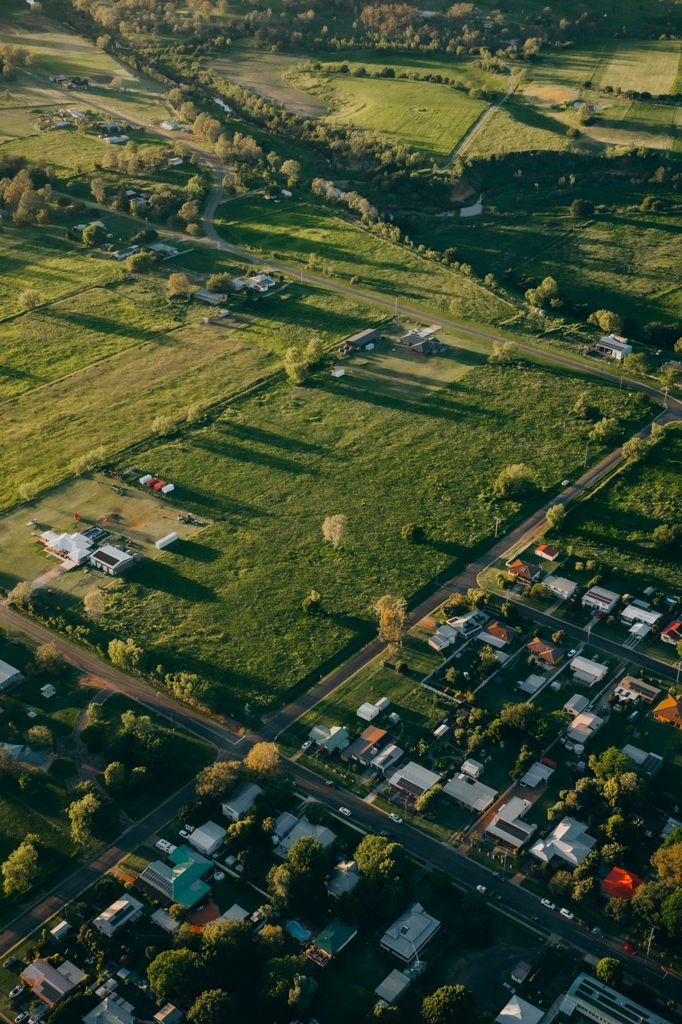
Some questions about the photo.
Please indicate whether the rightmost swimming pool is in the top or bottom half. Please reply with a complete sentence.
Seen from above, the rightmost swimming pool lies in the bottom half of the view.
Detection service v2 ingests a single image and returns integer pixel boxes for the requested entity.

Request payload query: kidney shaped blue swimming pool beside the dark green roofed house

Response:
[284,919,312,941]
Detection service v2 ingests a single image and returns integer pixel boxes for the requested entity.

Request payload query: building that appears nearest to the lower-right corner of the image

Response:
[565,972,673,1024]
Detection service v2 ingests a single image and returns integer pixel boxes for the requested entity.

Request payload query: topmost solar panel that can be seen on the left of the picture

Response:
[93,549,120,566]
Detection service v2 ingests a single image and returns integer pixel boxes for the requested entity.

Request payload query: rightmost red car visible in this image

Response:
[622,942,640,955]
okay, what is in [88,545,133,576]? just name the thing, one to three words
shed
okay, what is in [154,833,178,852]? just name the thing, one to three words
camper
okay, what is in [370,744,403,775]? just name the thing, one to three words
building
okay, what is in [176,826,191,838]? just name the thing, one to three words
vehicle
